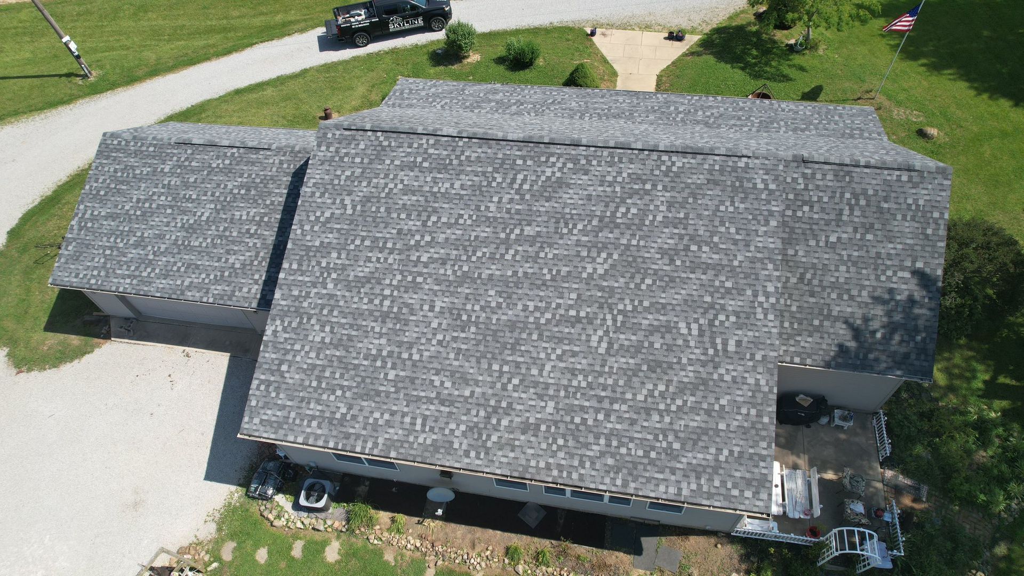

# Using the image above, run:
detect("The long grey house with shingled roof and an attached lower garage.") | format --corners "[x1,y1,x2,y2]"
[48,77,953,534]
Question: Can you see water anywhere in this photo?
No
